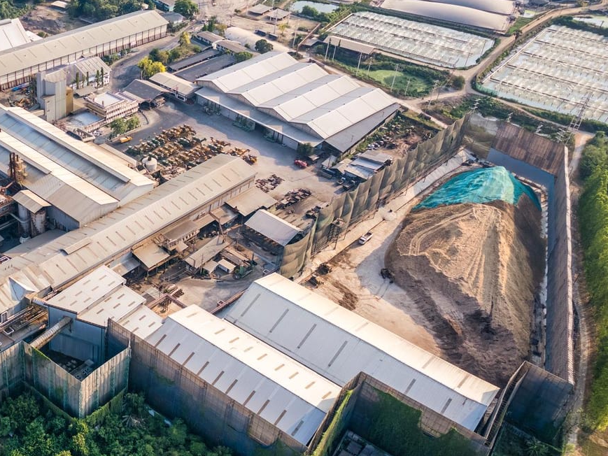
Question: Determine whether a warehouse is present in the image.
Yes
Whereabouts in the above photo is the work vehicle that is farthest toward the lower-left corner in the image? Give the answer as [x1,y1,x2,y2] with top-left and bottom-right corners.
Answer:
[232,265,254,279]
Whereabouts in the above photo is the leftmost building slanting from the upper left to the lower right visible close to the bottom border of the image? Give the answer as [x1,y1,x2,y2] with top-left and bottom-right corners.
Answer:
[141,301,352,454]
